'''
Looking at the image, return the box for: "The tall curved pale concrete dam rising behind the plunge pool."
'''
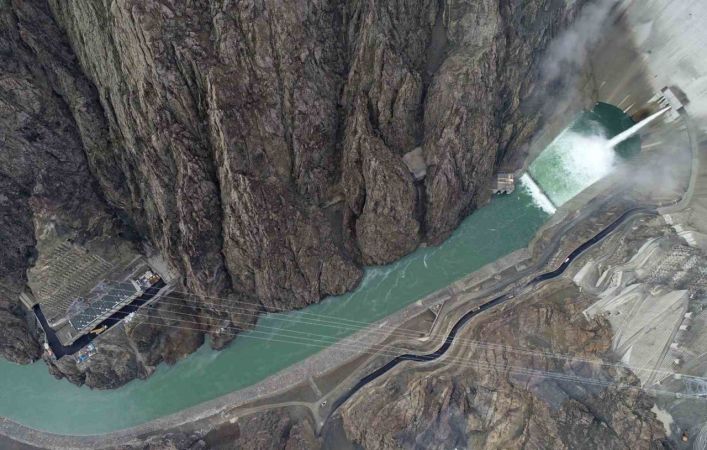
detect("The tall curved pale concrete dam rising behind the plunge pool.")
[598,0,707,267]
